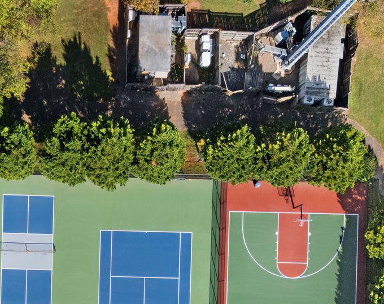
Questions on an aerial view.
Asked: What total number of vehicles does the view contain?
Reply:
none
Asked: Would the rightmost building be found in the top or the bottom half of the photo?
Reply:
top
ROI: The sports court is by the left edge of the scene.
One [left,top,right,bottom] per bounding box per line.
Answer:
[0,194,54,304]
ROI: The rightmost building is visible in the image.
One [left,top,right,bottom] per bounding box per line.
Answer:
[298,16,346,99]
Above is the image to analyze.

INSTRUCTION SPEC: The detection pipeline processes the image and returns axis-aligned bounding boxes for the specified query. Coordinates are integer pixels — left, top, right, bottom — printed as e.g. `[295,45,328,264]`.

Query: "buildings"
[137,16,172,76]
[298,16,346,99]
